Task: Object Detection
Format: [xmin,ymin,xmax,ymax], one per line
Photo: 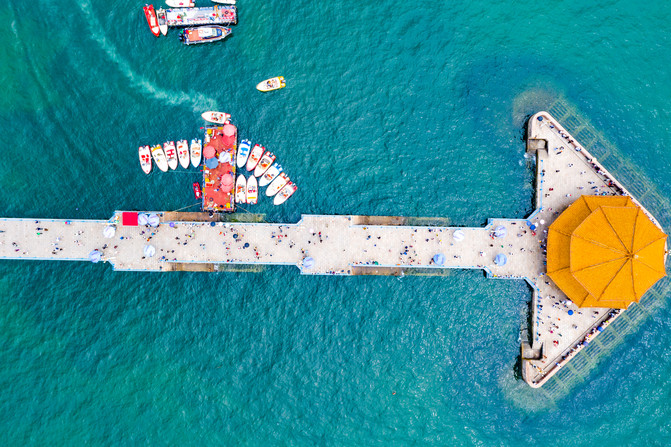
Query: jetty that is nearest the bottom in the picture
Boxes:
[0,109,671,389]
